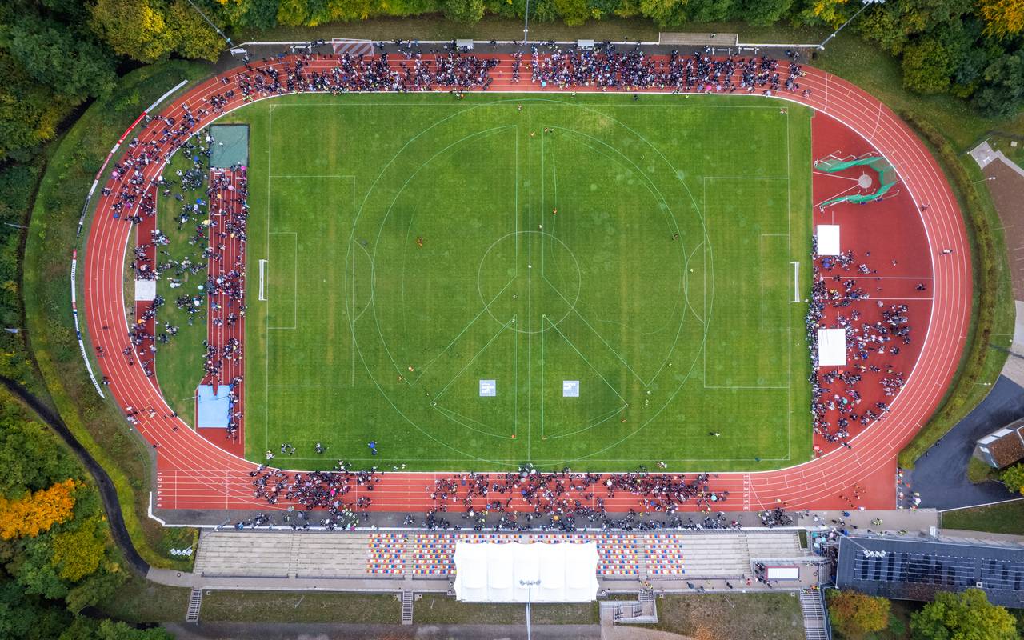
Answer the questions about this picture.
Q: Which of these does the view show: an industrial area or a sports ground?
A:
sports ground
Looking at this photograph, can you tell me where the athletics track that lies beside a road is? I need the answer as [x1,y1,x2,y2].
[83,54,972,512]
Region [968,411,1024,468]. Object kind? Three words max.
shed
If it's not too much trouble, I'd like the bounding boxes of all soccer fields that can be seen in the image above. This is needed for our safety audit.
[247,93,813,472]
